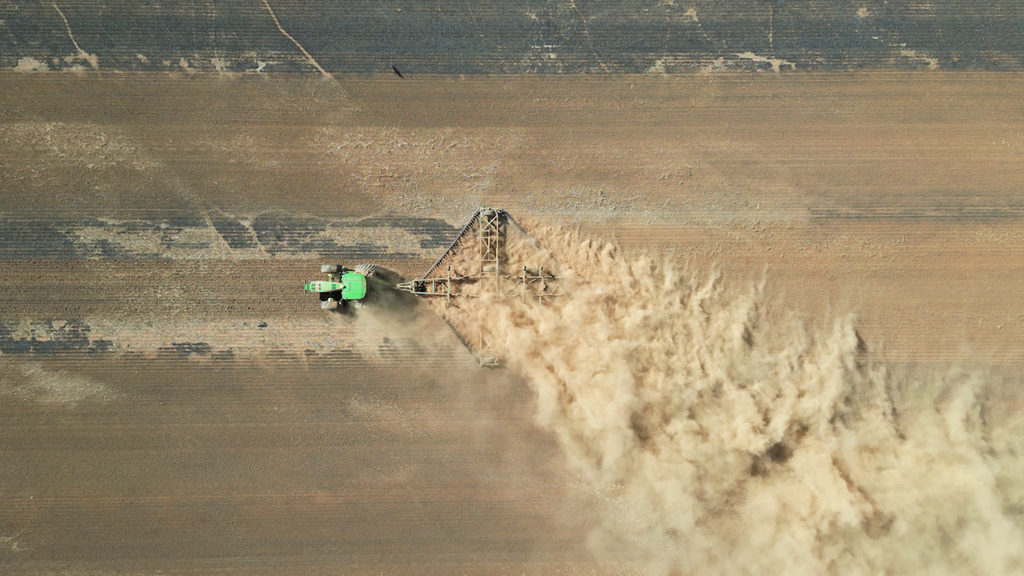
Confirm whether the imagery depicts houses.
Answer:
No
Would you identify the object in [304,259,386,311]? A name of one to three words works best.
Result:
work vehicle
